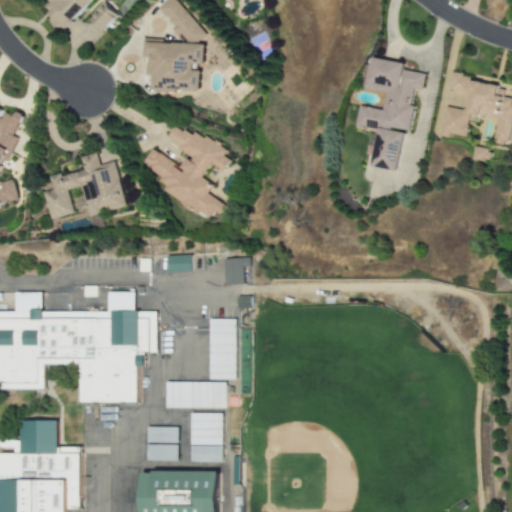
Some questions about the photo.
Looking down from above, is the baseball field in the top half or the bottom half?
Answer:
bottom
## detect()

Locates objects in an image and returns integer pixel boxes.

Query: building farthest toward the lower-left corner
[0,420,85,512]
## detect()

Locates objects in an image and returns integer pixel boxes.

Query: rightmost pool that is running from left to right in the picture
[351,90,385,108]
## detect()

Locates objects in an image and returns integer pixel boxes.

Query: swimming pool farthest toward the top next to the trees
[242,0,264,17]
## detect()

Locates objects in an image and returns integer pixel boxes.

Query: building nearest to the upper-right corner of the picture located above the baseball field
[440,72,512,144]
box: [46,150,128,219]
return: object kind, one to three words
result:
house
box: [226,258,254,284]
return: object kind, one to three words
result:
building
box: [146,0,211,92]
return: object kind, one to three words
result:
house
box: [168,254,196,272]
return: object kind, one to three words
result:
shed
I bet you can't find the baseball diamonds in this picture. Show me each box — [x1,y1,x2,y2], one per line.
[243,300,480,512]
